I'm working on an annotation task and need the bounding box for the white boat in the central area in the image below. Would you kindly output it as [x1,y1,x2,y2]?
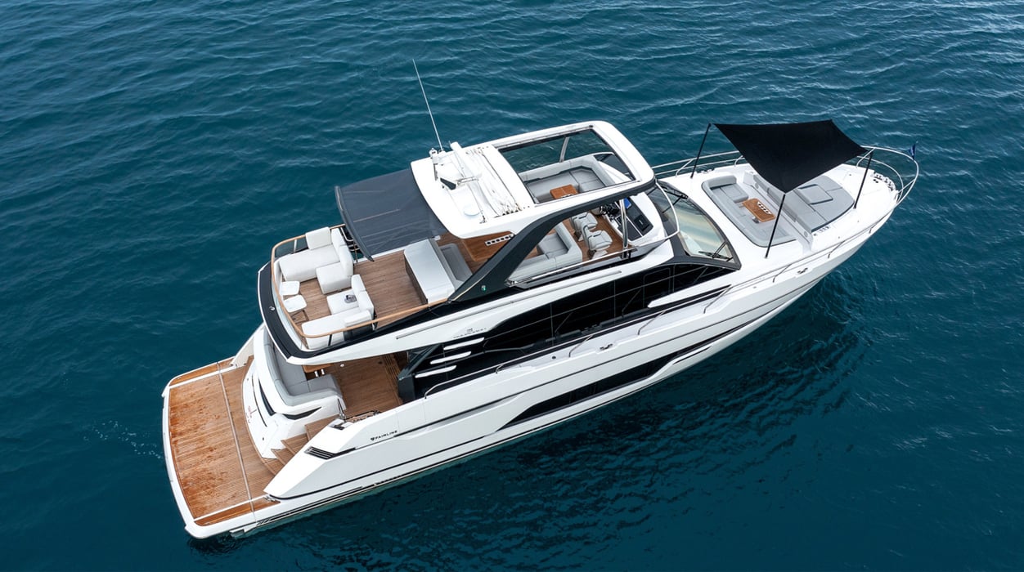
[162,59,919,539]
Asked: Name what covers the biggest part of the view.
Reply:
water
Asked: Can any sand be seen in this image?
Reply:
No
